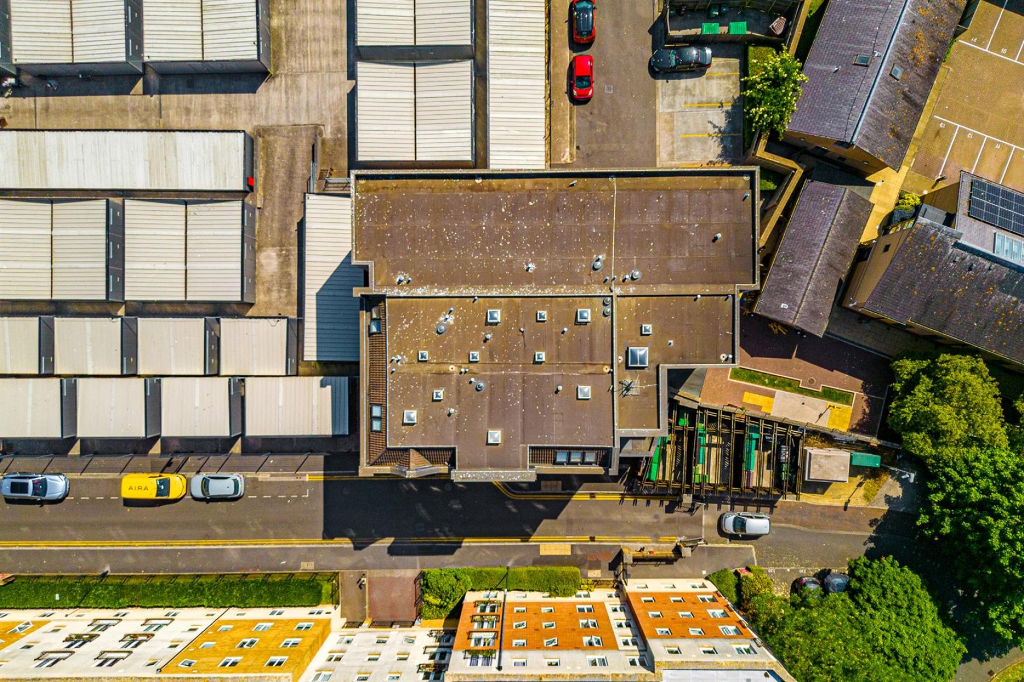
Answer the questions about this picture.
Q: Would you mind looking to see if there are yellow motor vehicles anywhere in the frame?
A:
Yes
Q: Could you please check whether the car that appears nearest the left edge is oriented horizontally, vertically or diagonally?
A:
horizontally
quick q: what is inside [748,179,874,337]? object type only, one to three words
house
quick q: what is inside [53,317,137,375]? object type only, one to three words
building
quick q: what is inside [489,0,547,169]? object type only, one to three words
building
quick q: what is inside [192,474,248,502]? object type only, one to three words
car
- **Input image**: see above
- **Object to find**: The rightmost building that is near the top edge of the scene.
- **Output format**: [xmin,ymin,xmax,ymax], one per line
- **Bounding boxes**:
[768,0,968,180]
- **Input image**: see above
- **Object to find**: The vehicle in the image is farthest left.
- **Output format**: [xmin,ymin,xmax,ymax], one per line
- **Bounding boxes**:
[3,473,73,503]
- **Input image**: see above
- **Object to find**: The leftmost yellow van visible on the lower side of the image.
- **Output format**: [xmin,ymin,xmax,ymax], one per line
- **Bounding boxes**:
[121,473,189,502]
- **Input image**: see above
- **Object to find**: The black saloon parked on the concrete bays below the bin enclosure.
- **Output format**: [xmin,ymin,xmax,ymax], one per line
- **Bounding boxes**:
[648,44,711,75]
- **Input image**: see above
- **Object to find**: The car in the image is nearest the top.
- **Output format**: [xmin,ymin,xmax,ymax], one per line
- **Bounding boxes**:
[570,0,598,45]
